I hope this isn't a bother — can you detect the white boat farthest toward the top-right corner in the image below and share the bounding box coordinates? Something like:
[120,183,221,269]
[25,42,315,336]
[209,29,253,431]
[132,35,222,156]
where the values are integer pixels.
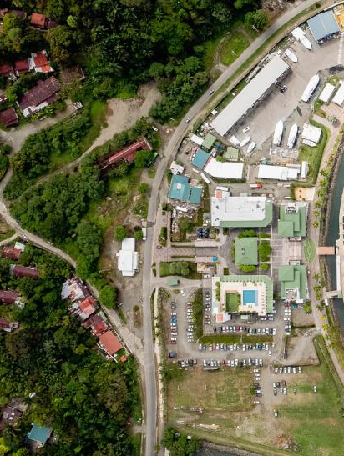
[298,33,312,49]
